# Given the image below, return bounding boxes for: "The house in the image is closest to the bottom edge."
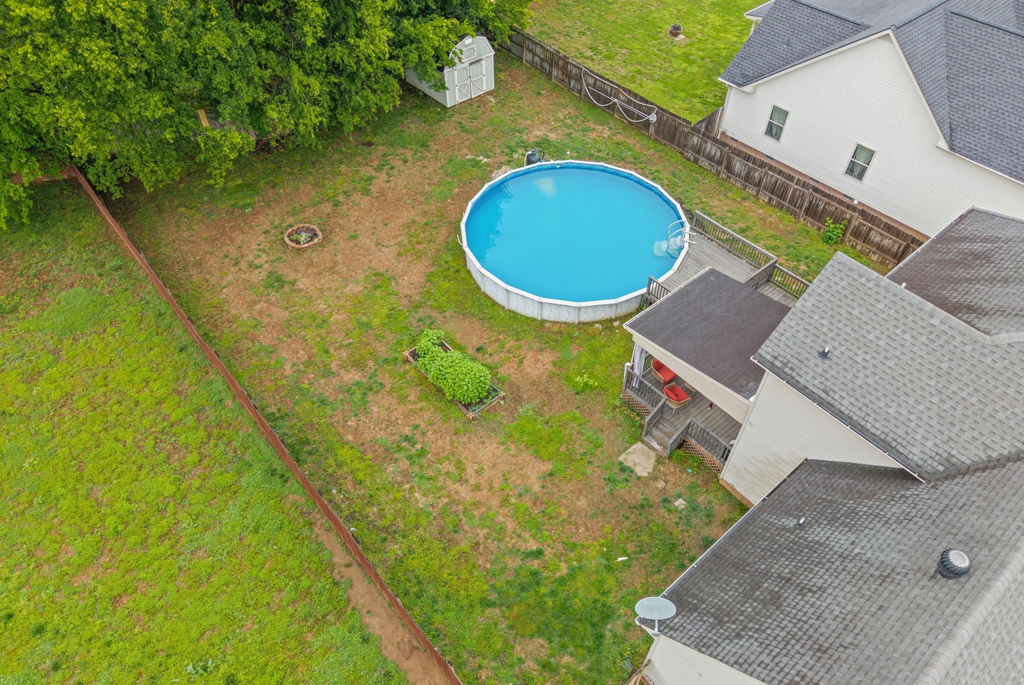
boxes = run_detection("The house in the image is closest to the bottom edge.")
[628,206,1024,685]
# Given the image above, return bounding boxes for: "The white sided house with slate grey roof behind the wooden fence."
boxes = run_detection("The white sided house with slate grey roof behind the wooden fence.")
[714,0,1024,242]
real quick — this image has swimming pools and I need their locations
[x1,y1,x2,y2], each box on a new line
[460,160,691,323]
